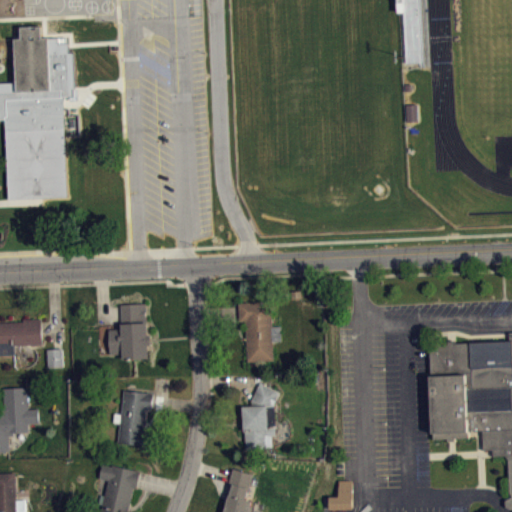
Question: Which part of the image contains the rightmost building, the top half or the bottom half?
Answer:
bottom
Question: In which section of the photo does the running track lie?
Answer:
top right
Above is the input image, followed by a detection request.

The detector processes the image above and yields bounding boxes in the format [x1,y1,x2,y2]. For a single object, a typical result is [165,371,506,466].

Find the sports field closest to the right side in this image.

[452,0,512,176]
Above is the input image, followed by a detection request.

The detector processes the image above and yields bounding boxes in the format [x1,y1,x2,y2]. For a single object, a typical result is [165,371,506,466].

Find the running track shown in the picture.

[430,0,512,198]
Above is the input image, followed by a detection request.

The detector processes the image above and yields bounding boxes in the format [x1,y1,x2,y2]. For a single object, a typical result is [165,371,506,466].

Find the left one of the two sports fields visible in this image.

[233,0,444,236]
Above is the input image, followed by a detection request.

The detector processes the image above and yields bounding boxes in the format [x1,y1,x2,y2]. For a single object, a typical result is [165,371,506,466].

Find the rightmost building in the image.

[428,342,512,512]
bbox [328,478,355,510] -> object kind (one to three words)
shed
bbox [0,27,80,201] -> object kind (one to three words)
building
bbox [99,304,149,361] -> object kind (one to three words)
house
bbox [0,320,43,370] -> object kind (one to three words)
house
